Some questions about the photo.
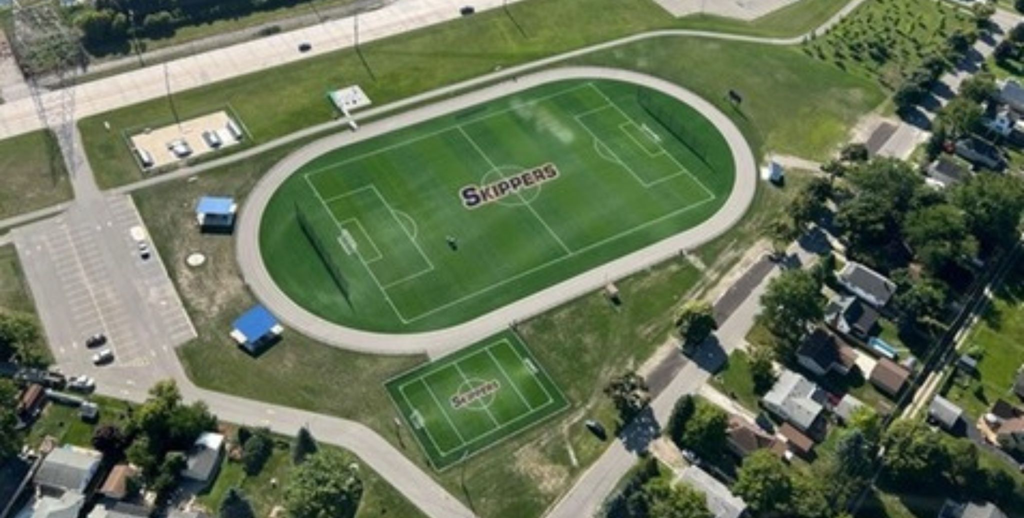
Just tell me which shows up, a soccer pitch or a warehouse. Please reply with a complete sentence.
It is a soccer pitch that can be seen here.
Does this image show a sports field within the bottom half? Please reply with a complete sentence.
Yes, the scene does show a sports field within the bottom half.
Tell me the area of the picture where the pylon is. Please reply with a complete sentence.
The pylon appears toward the top left of the photo.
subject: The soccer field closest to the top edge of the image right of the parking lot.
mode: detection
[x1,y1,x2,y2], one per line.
[306,84,713,323]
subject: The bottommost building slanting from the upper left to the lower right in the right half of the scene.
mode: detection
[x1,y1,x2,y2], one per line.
[682,465,746,518]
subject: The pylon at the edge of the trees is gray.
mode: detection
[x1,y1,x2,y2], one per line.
[10,0,69,77]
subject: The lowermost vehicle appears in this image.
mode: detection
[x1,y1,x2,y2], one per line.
[681,448,703,465]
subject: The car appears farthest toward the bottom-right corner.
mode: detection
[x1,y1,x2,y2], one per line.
[825,391,841,408]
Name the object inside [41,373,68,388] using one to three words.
vehicle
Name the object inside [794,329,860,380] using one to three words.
house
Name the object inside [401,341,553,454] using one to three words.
sports field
